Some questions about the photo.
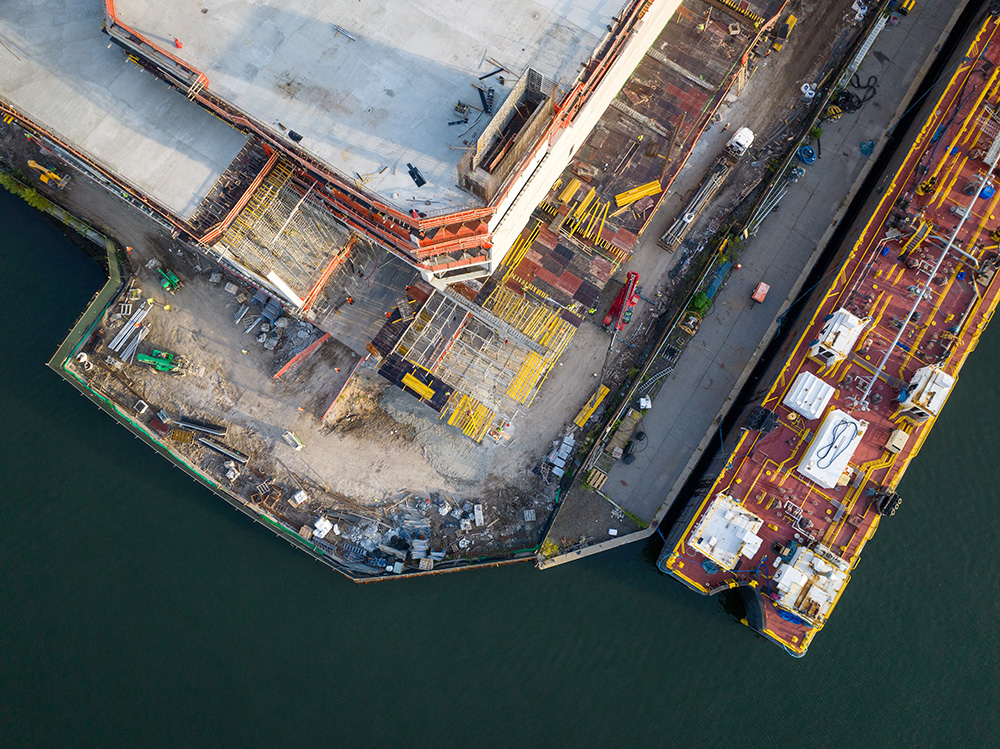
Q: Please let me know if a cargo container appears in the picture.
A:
Yes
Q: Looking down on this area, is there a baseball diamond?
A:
No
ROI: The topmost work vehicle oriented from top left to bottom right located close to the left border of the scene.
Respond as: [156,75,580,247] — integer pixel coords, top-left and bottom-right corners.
[22,156,66,193]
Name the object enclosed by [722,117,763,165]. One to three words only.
truck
